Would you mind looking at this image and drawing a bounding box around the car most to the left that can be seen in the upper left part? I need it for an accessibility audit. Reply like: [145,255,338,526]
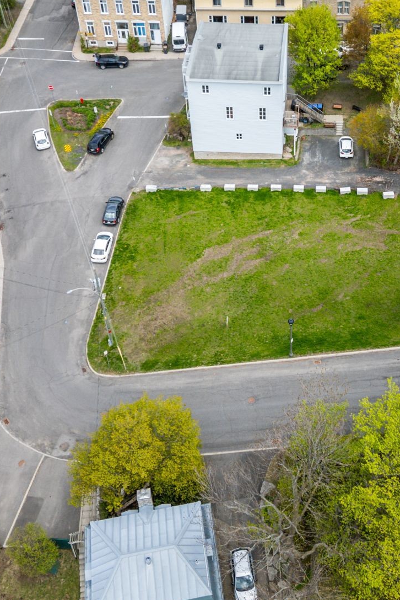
[29,124,51,149]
